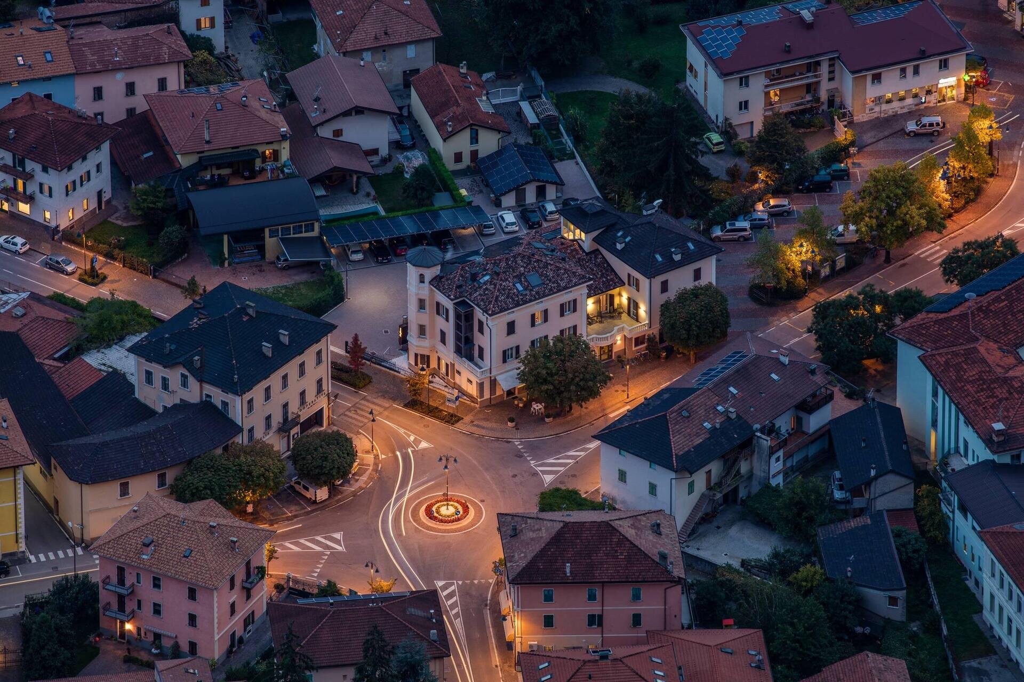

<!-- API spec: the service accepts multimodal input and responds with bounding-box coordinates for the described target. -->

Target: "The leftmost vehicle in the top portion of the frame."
[0,236,32,257]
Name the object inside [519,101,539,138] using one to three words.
shed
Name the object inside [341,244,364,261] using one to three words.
car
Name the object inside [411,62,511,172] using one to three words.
house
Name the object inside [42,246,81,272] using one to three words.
car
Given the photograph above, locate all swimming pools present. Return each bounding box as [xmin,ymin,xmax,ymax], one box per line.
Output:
[318,204,380,226]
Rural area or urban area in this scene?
urban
